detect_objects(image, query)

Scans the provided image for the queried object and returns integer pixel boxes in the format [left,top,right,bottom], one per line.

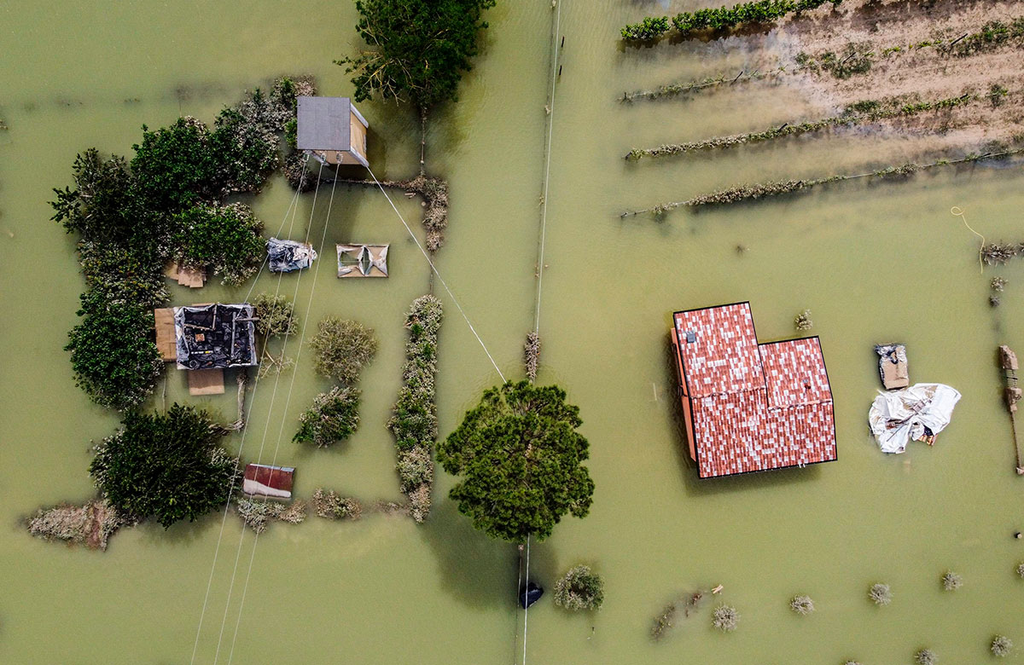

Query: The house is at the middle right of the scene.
[670,301,838,480]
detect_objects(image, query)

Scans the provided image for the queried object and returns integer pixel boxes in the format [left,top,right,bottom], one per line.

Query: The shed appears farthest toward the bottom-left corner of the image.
[243,463,297,500]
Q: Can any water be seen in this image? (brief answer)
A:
Yes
